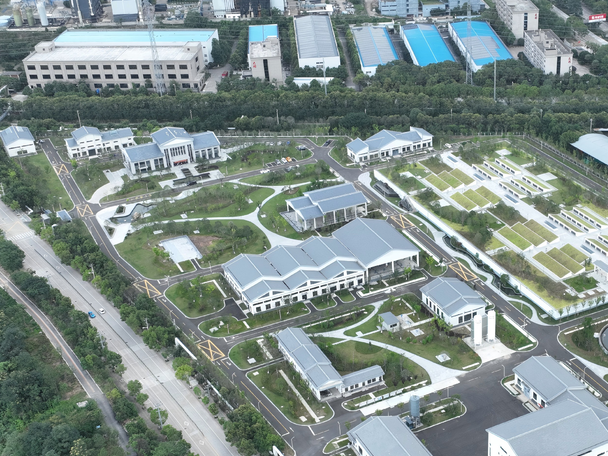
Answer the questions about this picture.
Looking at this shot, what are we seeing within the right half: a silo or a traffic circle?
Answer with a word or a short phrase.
silo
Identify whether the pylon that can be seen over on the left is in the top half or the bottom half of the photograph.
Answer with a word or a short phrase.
top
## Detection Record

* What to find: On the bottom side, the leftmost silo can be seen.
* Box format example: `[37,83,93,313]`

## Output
[399,384,427,432]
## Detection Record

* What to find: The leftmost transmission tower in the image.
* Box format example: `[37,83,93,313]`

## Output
[138,0,168,85]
